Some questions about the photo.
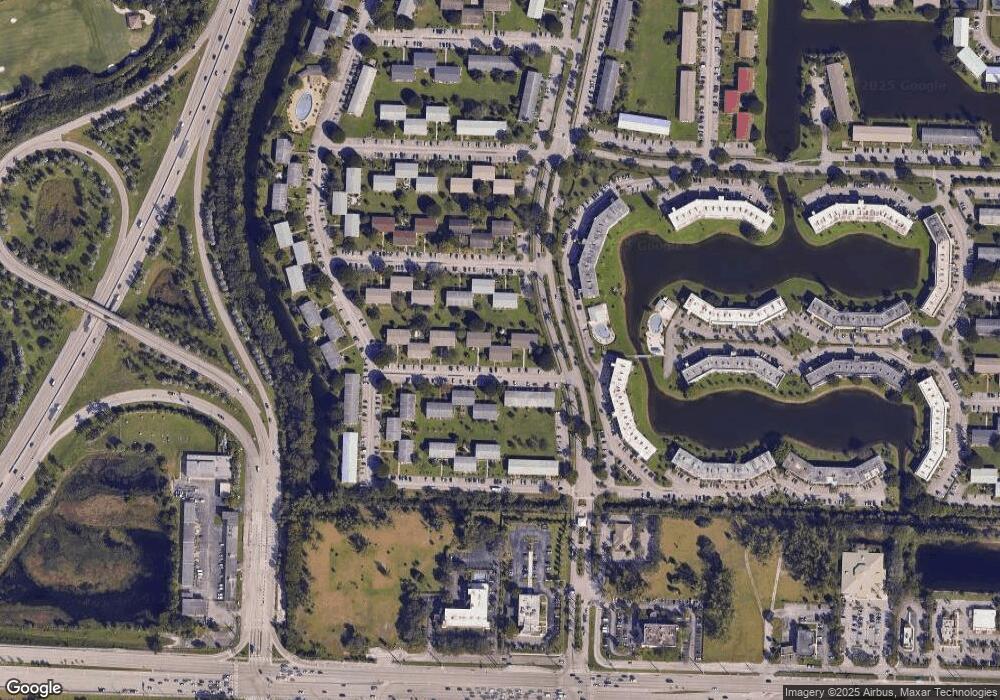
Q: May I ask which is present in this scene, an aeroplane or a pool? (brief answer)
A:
pool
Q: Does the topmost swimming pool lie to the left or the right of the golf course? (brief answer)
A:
right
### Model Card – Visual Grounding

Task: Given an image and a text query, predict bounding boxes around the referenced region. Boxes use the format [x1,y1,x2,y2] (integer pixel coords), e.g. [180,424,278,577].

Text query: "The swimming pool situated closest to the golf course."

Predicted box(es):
[287,73,327,133]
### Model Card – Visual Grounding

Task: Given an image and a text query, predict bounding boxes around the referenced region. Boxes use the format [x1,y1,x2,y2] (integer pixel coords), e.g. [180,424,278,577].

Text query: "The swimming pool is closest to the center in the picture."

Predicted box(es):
[589,320,615,345]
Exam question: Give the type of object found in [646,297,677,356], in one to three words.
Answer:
swimming pool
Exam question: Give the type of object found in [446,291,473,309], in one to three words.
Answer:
house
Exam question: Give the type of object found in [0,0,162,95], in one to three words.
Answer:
golf course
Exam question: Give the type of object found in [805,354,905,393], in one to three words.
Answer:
building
